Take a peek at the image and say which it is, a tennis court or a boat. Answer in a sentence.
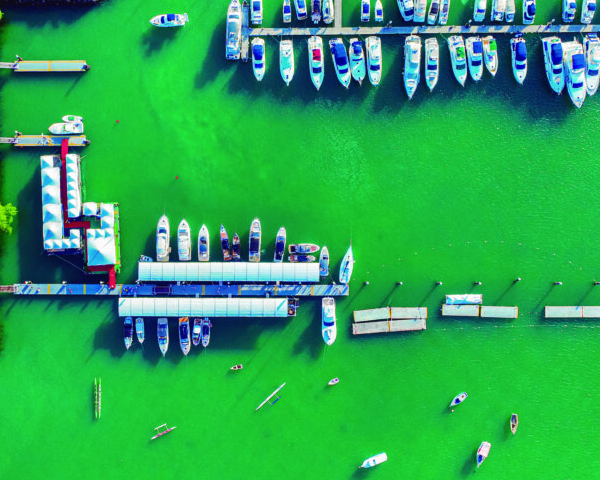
I can see a boat in this picture.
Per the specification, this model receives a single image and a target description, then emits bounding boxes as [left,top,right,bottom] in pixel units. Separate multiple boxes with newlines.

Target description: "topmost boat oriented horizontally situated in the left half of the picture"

[149,13,189,26]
